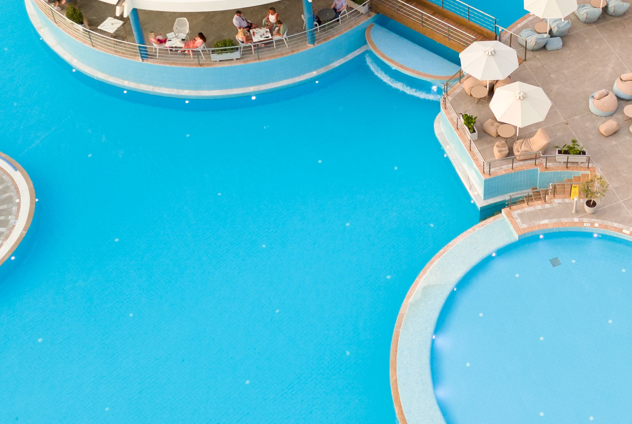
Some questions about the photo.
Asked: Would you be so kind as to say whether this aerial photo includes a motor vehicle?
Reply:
No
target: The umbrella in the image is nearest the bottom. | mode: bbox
[491,83,552,139]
